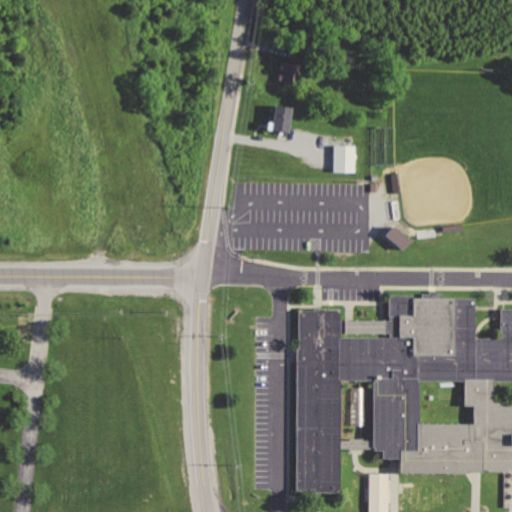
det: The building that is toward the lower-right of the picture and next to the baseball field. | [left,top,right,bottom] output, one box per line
[297,294,512,493]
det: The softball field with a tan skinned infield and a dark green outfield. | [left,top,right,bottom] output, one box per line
[383,74,512,226]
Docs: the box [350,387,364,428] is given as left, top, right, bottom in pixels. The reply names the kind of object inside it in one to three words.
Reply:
shed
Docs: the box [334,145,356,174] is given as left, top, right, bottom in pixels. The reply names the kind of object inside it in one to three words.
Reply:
building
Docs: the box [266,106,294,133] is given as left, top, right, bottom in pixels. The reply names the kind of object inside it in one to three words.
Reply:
house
